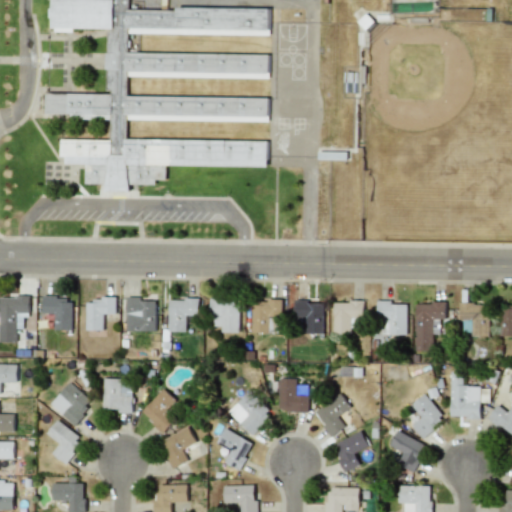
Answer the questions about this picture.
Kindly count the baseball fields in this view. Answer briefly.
1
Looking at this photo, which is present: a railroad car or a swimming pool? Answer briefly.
swimming pool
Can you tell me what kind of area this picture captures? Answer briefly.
residential area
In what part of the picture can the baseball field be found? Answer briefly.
top right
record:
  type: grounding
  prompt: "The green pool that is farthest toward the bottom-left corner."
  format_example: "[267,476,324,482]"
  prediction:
[38,484,52,508]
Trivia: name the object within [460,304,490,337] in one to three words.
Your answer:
house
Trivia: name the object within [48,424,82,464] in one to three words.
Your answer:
house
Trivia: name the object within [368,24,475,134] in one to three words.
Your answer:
baseball field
